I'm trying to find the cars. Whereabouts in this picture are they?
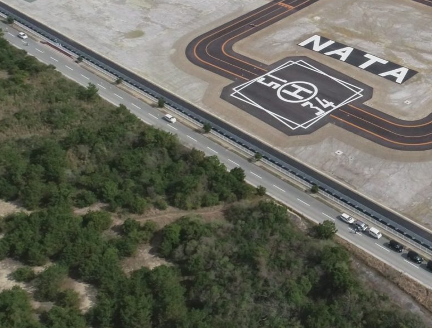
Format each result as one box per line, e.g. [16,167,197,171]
[339,210,355,222]
[426,259,432,270]
[18,32,27,38]
[354,218,369,230]
[164,114,175,123]
[406,248,423,262]
[388,238,405,251]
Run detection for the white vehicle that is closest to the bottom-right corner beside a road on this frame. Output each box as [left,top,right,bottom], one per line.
[367,224,383,238]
